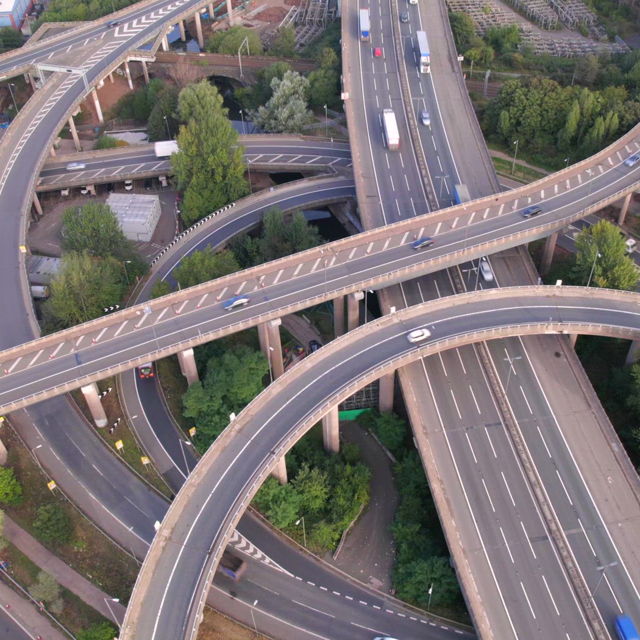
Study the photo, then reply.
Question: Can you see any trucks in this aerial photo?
Yes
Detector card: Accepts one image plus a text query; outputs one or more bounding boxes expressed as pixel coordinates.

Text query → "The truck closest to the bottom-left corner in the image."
[216,551,255,585]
